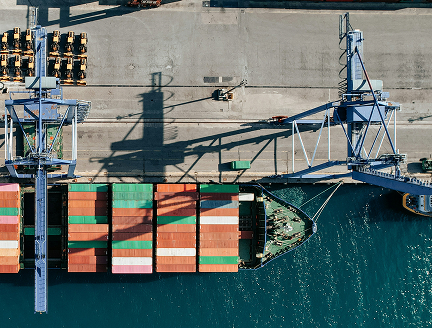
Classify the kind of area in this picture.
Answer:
port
